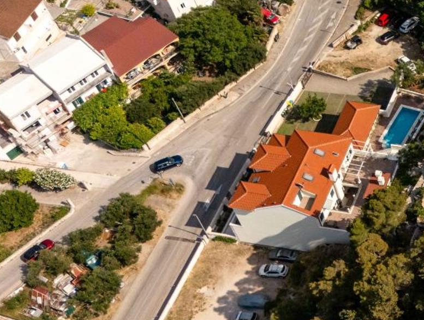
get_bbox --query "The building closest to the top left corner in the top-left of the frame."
[0,0,55,63]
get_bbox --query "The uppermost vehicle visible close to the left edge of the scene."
[20,238,56,262]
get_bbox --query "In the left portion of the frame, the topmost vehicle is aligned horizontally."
[151,155,184,174]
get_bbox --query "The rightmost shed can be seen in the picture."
[368,166,390,201]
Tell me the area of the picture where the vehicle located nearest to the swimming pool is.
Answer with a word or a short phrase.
top right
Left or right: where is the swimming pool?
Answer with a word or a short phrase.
right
